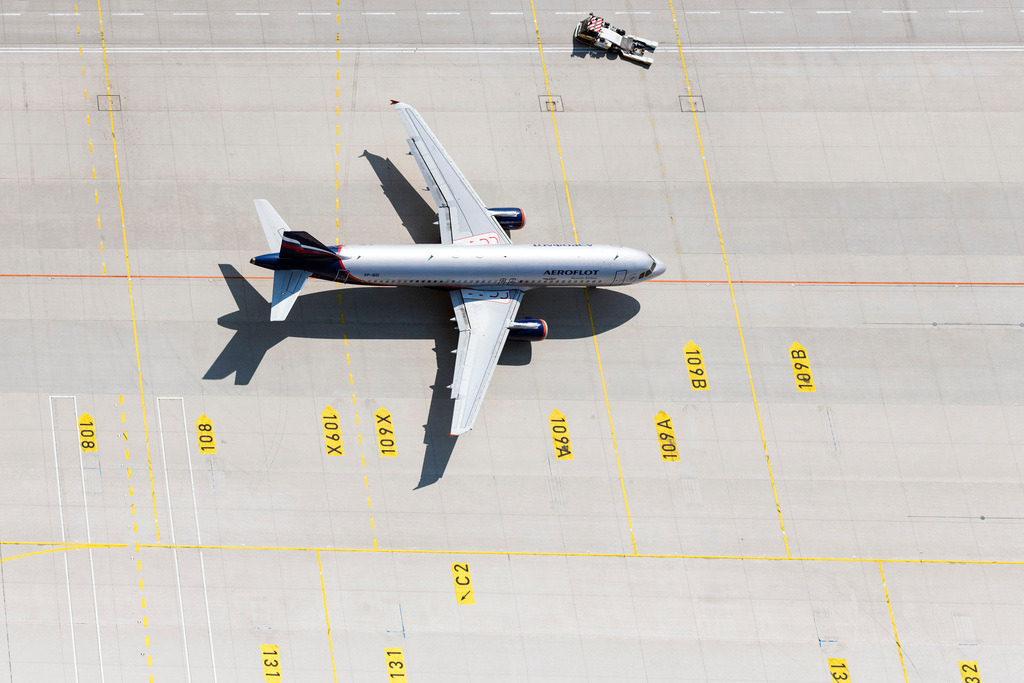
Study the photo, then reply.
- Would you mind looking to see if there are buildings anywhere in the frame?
No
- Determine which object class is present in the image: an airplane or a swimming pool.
airplane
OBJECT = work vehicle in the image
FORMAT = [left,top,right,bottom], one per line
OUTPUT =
[575,13,658,66]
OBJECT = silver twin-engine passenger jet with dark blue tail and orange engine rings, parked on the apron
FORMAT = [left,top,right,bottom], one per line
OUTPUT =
[250,101,666,437]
